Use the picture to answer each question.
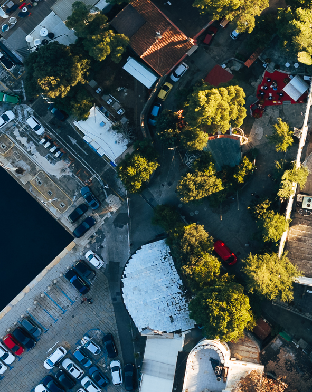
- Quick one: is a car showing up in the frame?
Yes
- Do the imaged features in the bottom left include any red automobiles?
Yes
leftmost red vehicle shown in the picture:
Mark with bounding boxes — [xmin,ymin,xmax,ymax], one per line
[0,334,24,357]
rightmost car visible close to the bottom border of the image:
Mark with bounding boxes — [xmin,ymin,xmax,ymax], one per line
[119,364,136,392]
